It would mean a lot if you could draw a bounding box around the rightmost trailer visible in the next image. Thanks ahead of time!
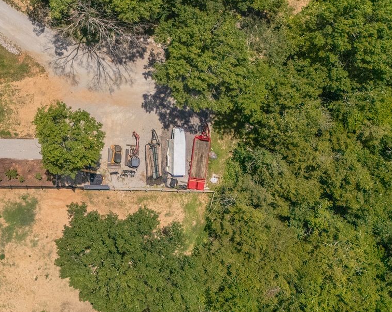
[186,122,211,190]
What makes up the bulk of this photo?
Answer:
trees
